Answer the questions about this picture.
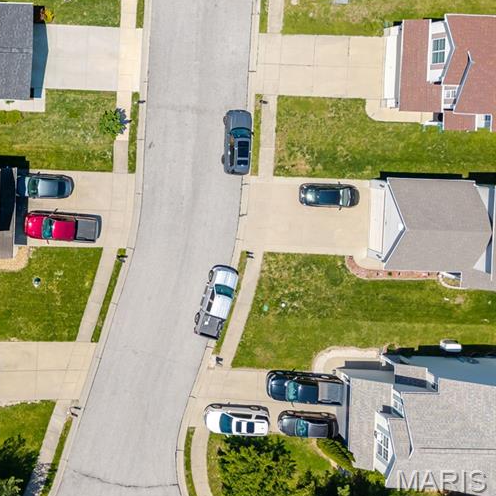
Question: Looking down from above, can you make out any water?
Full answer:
No, water can't be seen anywhere here.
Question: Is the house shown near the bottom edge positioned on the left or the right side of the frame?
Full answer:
It is on the right.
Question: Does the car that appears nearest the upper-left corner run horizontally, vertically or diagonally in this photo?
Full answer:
The car that appears nearest the upper-left corner has been laid out horizontally relative to the frame.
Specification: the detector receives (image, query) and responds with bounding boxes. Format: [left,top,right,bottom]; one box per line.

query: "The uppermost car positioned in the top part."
[220,110,254,174]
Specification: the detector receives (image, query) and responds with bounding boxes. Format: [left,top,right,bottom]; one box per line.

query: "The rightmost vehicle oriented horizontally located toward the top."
[296,182,357,210]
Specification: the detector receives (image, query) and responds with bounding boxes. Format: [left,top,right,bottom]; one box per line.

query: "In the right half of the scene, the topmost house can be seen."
[383,14,496,133]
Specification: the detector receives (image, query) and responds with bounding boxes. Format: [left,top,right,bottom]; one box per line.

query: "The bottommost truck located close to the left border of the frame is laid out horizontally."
[24,211,99,242]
